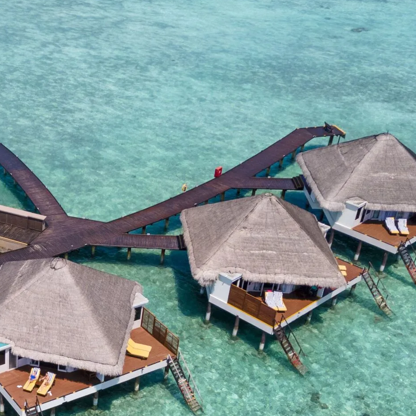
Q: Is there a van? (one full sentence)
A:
No, there isn't any van down there.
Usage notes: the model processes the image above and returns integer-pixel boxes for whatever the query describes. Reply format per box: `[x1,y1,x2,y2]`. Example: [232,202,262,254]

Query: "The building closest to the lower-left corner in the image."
[0,257,207,416]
